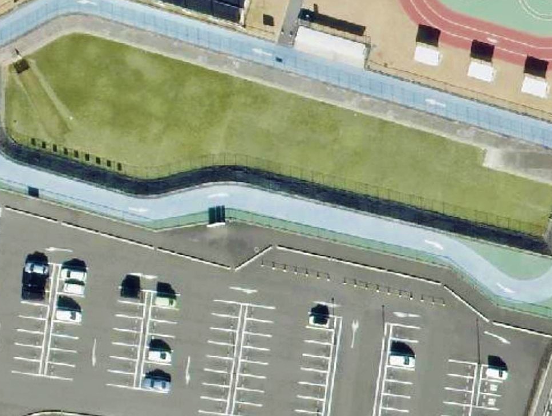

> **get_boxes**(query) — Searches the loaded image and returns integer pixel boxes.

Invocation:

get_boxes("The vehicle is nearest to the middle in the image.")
[308,315,331,328]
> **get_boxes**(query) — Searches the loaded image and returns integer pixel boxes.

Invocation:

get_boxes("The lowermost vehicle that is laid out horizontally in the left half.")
[142,380,171,394]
